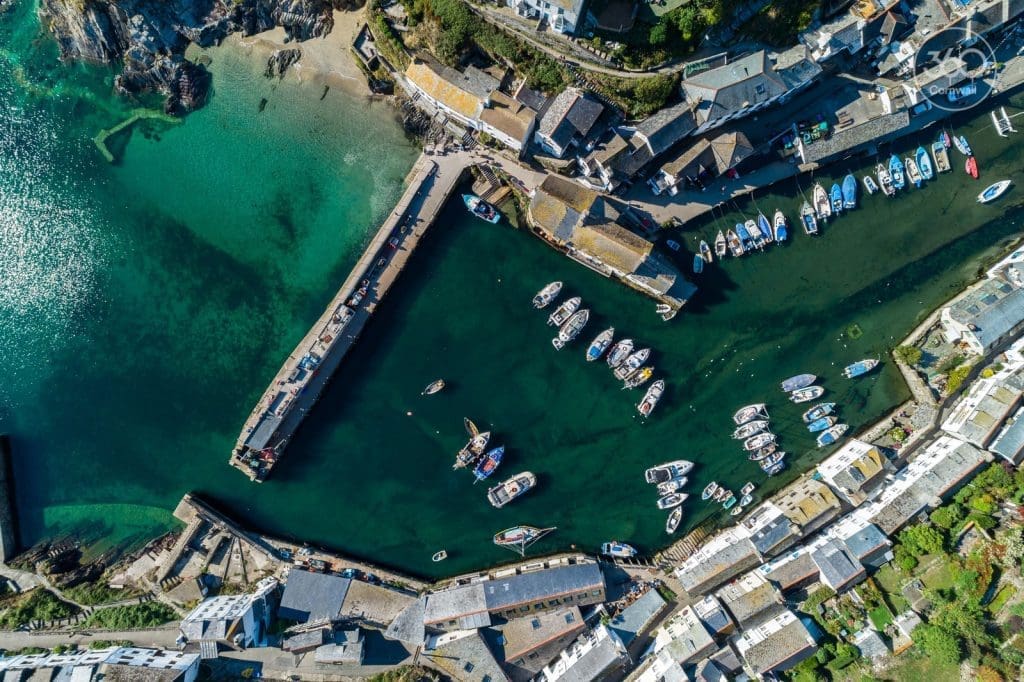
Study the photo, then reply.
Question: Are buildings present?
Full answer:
Yes, you can see a building in this photo.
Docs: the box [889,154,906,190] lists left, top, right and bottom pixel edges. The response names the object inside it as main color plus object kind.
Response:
blue boat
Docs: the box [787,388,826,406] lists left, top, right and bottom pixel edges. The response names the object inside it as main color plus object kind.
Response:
white boat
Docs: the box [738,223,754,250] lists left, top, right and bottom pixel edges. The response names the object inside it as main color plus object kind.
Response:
blue boat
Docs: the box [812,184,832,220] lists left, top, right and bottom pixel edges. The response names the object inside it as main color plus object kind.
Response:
white boat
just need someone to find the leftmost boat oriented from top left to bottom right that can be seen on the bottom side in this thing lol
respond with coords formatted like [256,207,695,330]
[464,418,480,437]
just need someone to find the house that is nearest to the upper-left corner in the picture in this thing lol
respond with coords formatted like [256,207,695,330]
[408,53,456,106]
